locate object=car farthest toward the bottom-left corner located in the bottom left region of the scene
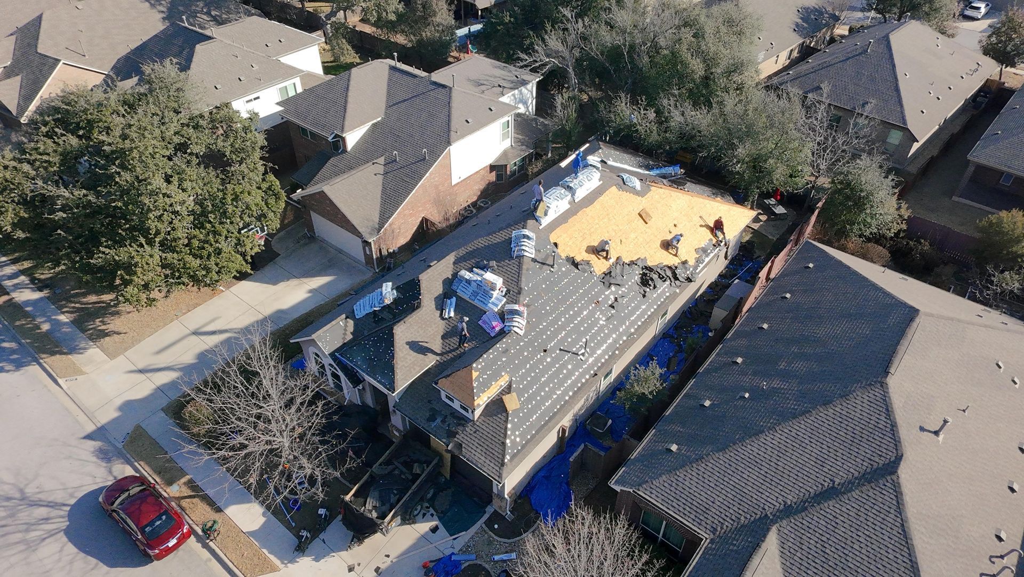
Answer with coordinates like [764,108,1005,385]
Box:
[101,476,187,561]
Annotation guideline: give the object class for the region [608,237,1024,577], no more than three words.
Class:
house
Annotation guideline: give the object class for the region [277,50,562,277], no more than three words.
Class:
house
